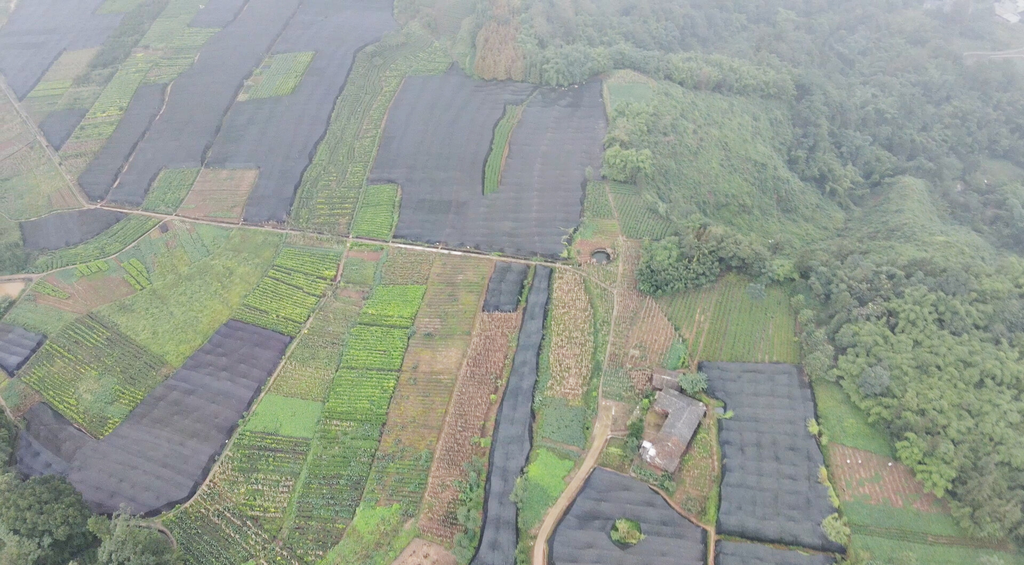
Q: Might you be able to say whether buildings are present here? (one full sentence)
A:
Yes, a building appears in the view.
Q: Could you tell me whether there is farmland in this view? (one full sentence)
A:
Yes, farmland shows up in the scene.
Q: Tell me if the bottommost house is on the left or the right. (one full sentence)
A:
The bottommost house sits on the right side.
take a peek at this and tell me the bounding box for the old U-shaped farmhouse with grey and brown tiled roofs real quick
[636,387,709,481]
